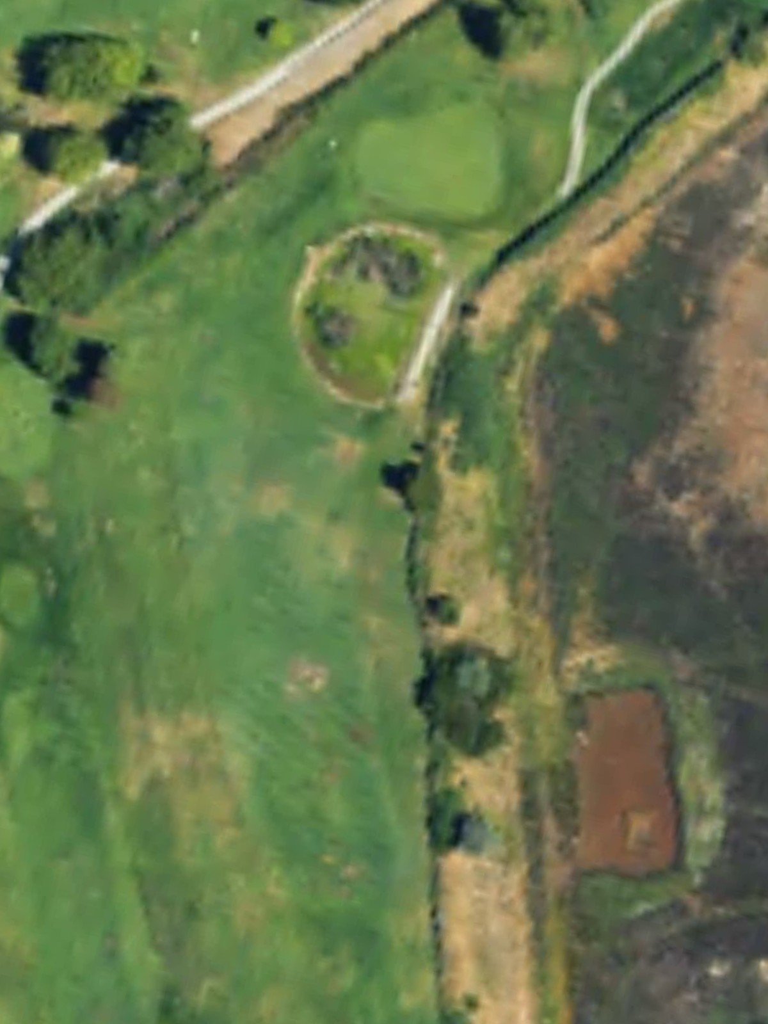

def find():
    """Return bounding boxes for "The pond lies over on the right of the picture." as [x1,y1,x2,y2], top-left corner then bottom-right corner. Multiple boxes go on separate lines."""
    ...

[572,688,679,874]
